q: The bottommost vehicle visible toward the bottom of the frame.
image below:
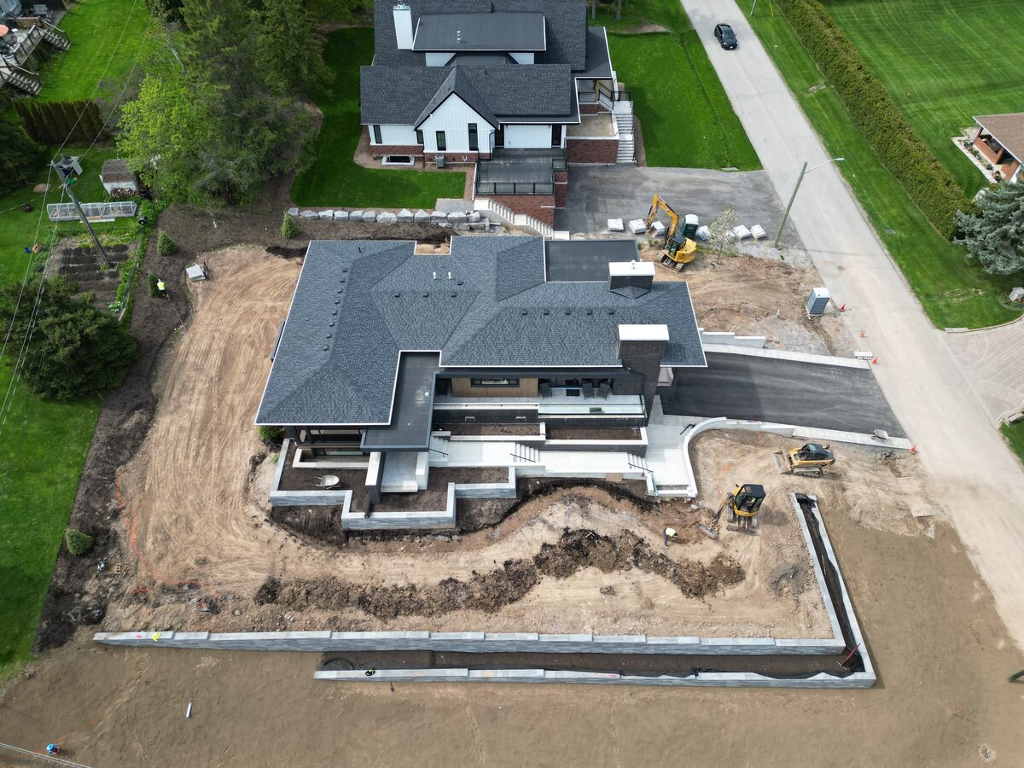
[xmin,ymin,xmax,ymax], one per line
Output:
[702,483,773,539]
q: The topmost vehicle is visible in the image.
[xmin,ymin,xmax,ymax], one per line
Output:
[713,19,738,46]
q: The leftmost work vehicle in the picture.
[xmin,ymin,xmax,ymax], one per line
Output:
[643,190,703,270]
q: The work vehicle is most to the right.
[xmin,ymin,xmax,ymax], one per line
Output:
[770,441,844,487]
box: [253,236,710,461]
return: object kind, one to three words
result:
house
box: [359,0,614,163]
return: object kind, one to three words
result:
house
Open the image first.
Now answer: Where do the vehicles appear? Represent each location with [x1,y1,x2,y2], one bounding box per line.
[643,190,703,270]
[702,483,773,539]
[713,19,738,46]
[770,441,844,487]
